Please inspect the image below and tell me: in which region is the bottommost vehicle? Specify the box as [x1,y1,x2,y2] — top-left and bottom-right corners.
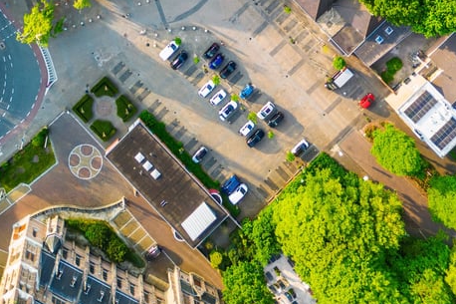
[142,240,162,259]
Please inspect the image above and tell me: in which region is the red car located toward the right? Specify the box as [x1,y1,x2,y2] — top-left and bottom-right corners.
[357,93,374,109]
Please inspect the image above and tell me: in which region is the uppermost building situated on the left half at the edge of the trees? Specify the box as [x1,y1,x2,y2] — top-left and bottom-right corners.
[105,110,230,249]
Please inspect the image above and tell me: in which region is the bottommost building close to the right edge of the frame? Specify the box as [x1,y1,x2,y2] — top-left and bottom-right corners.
[378,68,456,158]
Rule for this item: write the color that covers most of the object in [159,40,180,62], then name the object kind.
white vehicle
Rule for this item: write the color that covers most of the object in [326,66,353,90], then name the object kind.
white truck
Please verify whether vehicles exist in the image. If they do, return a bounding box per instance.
[203,40,221,60]
[191,145,208,164]
[237,122,255,137]
[171,47,189,67]
[219,101,236,121]
[357,93,374,109]
[207,50,225,70]
[209,88,227,105]
[222,174,241,191]
[326,66,353,90]
[159,40,180,62]
[256,100,274,120]
[290,138,309,157]
[198,80,213,97]
[219,60,236,80]
[142,240,162,259]
[246,128,265,147]
[237,82,254,99]
[267,110,284,128]
[228,182,248,207]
